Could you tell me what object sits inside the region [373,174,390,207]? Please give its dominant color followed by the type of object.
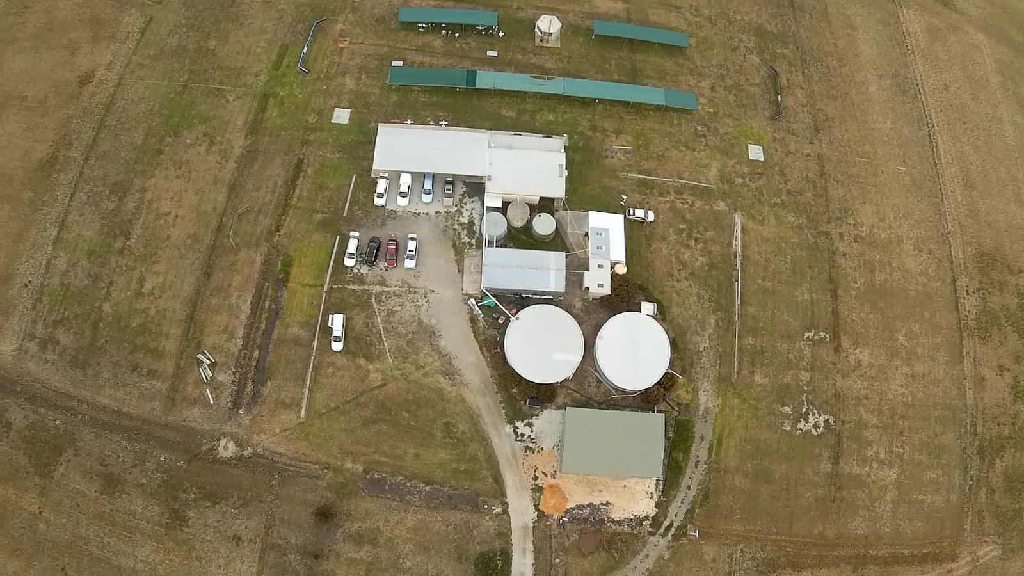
white car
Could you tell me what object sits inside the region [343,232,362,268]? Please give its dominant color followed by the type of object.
white car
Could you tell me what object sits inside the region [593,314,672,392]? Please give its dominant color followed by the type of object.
white water tank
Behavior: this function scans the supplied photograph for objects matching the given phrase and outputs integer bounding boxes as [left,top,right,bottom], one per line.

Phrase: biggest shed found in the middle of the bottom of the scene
[560,405,665,480]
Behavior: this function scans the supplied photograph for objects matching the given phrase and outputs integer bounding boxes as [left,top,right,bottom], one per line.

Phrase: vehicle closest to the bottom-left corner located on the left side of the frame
[324,312,346,352]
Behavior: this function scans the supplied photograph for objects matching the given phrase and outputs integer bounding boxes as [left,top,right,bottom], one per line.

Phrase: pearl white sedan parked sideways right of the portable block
[626,208,655,224]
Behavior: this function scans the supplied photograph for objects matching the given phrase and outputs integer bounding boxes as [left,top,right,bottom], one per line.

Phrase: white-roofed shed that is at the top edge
[537,15,561,43]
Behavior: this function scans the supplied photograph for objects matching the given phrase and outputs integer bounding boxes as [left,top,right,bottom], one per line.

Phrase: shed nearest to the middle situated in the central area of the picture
[483,248,566,296]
